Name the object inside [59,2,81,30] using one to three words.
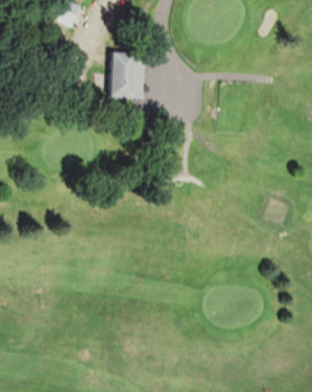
house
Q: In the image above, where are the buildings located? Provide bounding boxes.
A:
[111,52,144,100]
[59,2,81,30]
